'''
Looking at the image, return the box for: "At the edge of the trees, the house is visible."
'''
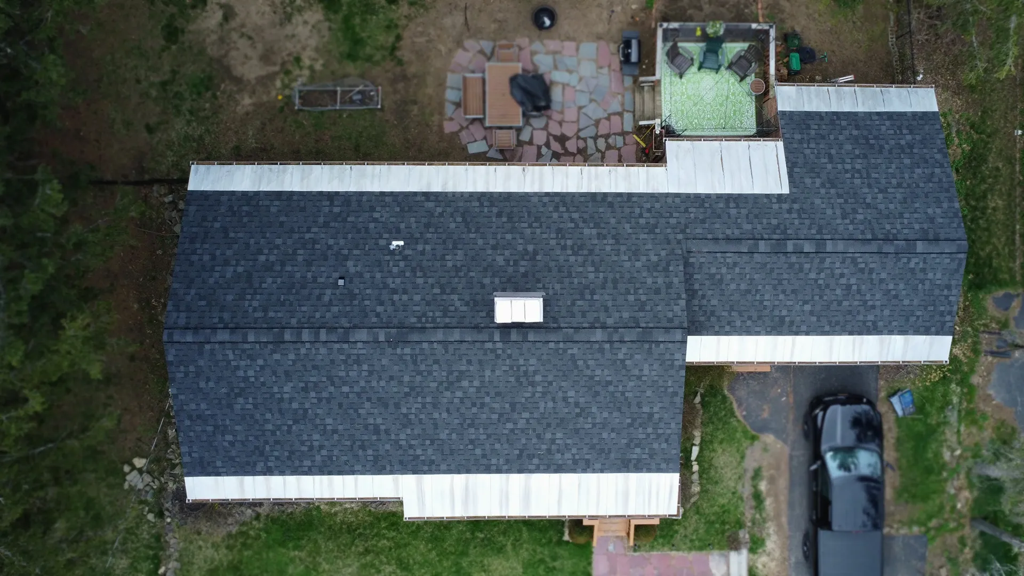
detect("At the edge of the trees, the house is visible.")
[161,81,968,522]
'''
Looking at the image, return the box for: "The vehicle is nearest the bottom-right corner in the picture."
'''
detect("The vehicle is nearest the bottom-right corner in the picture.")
[796,388,894,576]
